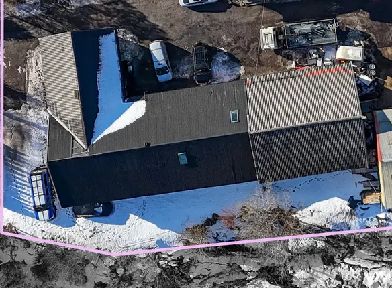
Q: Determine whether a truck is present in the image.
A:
Yes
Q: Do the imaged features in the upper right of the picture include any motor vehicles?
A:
Yes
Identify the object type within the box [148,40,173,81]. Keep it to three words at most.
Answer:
vehicle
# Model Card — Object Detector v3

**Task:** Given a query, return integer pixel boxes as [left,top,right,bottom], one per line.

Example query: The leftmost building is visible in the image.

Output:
[37,27,258,209]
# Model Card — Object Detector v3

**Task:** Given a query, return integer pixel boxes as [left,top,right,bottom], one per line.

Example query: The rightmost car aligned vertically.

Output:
[193,43,213,85]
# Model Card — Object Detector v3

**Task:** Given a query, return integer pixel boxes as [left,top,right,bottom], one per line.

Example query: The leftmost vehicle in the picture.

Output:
[30,171,56,219]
